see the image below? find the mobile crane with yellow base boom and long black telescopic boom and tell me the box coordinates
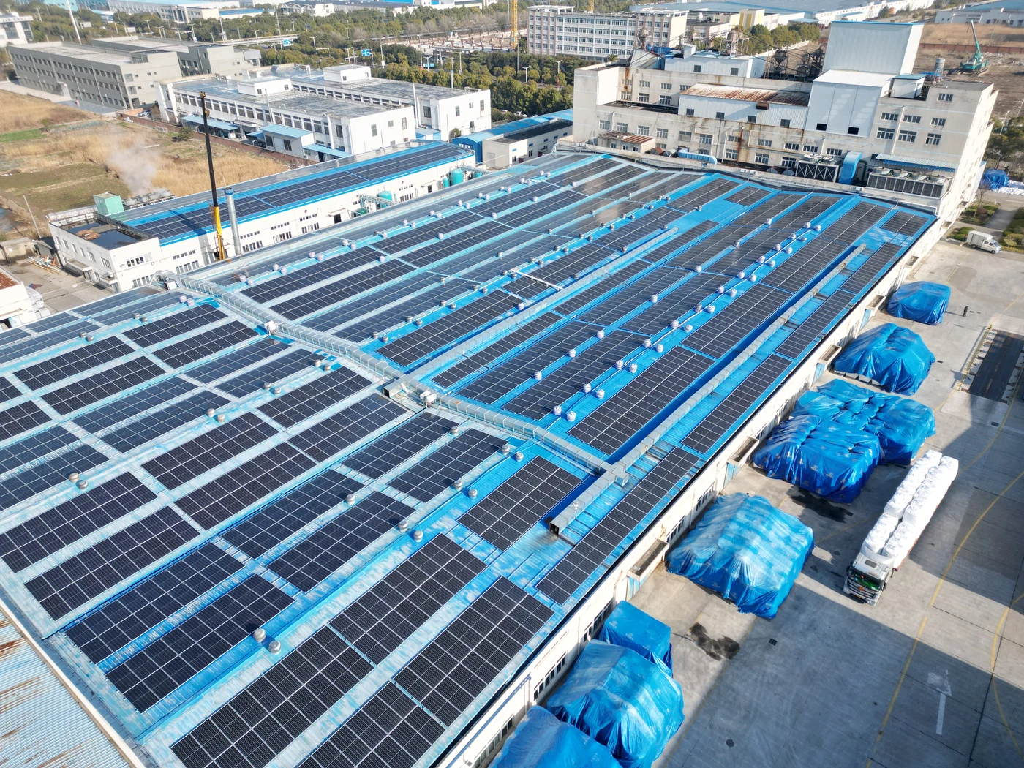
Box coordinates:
[200,88,224,260]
